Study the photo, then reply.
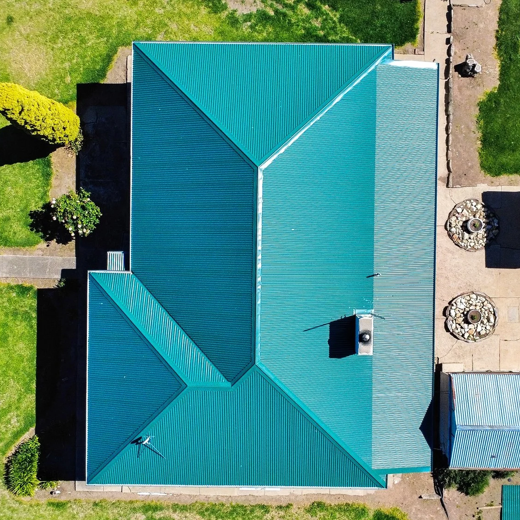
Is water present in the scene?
No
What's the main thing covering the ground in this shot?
buildings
